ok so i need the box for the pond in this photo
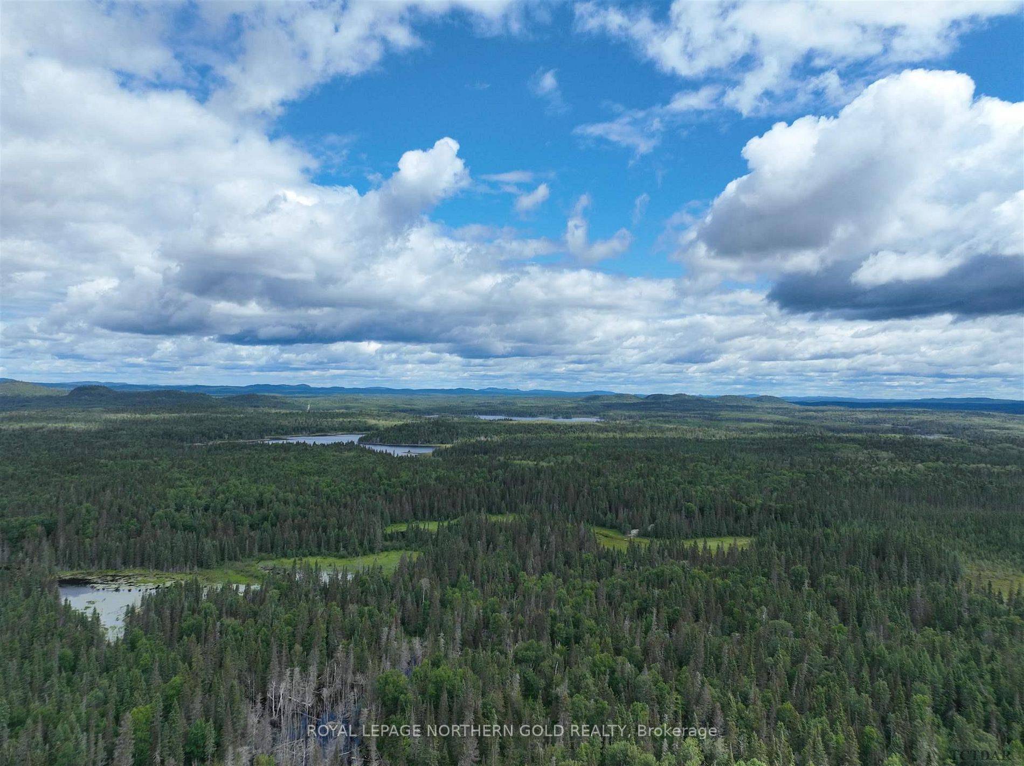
[56,580,170,665]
